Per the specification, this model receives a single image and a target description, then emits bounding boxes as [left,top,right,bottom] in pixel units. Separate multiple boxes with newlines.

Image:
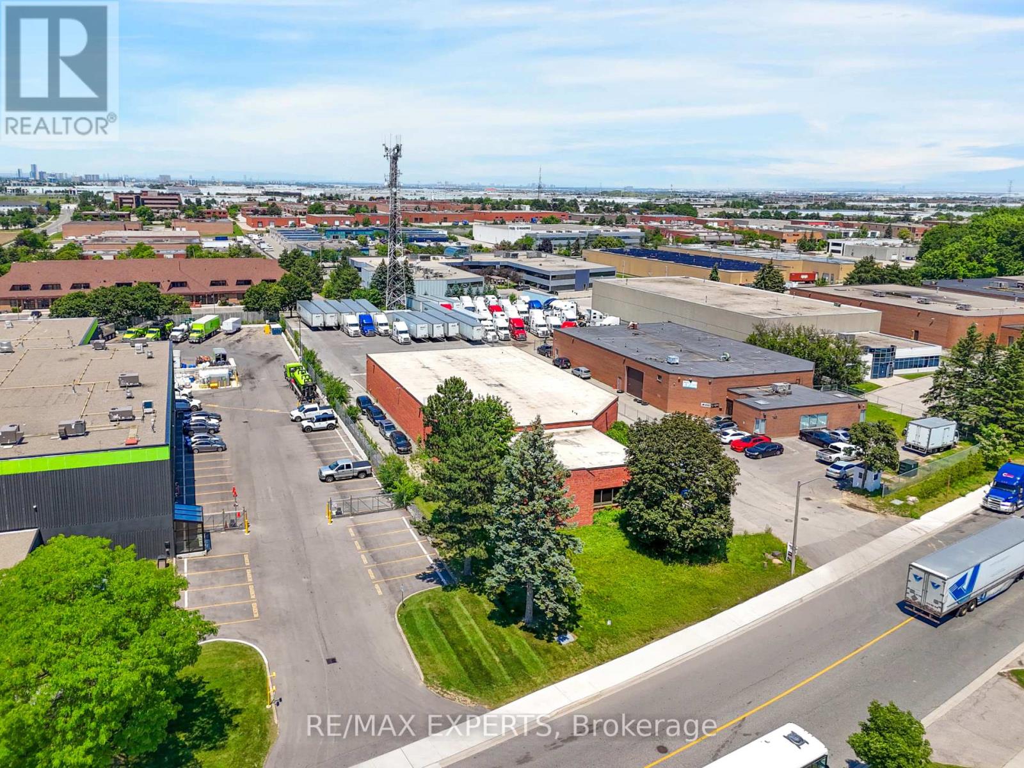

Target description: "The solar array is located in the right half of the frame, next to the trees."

[600,248,755,268]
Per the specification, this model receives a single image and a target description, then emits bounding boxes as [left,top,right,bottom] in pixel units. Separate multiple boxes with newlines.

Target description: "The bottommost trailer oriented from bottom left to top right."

[906,515,1024,627]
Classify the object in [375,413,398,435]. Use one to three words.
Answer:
car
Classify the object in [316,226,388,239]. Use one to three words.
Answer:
building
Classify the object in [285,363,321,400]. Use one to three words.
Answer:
truck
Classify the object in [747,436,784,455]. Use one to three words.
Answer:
car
